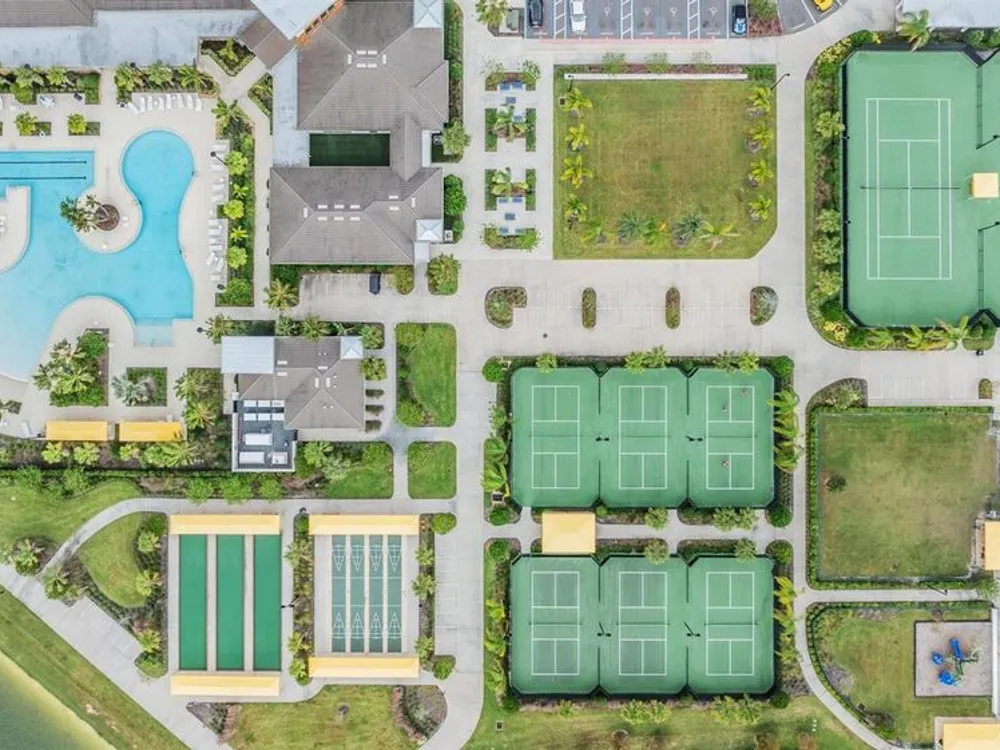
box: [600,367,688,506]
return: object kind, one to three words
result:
sports court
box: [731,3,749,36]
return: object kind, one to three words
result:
car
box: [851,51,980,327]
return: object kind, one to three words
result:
tennis court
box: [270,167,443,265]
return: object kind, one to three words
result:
building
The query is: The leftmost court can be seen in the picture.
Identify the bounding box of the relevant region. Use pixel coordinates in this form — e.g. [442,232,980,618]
[179,528,282,672]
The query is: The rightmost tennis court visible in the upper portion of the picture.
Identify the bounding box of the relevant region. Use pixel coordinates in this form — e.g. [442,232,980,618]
[979,51,1000,320]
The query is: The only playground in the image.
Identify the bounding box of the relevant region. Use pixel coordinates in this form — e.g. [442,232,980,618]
[915,622,987,698]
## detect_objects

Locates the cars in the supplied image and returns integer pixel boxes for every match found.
[569,0,587,35]
[731,3,749,36]
[814,0,833,11]
[528,0,545,27]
